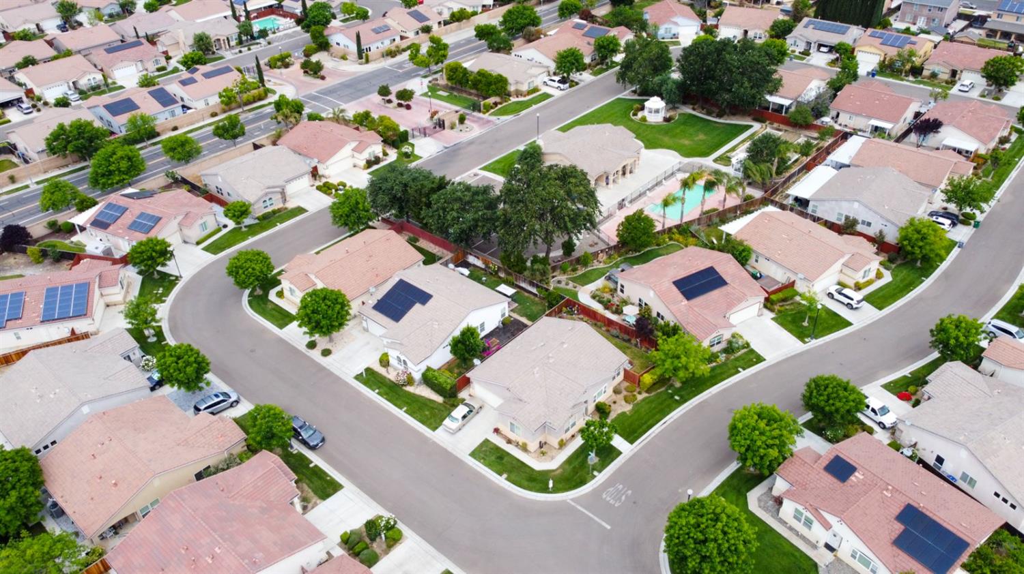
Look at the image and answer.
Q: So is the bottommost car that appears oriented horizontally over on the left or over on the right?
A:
left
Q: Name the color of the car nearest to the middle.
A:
white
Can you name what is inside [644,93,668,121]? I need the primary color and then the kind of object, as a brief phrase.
white gazebo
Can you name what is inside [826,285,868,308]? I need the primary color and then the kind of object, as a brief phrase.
white car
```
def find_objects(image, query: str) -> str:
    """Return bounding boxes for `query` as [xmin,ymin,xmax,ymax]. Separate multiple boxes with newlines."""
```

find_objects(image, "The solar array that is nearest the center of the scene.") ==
[371,278,432,320]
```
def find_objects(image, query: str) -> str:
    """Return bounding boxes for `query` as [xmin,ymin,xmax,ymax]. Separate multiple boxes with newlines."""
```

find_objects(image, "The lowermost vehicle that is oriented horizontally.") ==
[190,393,240,416]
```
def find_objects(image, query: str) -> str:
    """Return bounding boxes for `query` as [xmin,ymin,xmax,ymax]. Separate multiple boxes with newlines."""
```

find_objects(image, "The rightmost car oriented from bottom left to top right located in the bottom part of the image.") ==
[441,398,483,433]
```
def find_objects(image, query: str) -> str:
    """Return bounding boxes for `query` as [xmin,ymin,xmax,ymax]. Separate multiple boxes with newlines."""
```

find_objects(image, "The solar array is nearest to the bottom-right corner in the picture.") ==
[892,503,970,574]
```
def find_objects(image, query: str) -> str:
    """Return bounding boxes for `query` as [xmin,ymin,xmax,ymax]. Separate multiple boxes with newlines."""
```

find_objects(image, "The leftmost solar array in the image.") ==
[0,291,25,321]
